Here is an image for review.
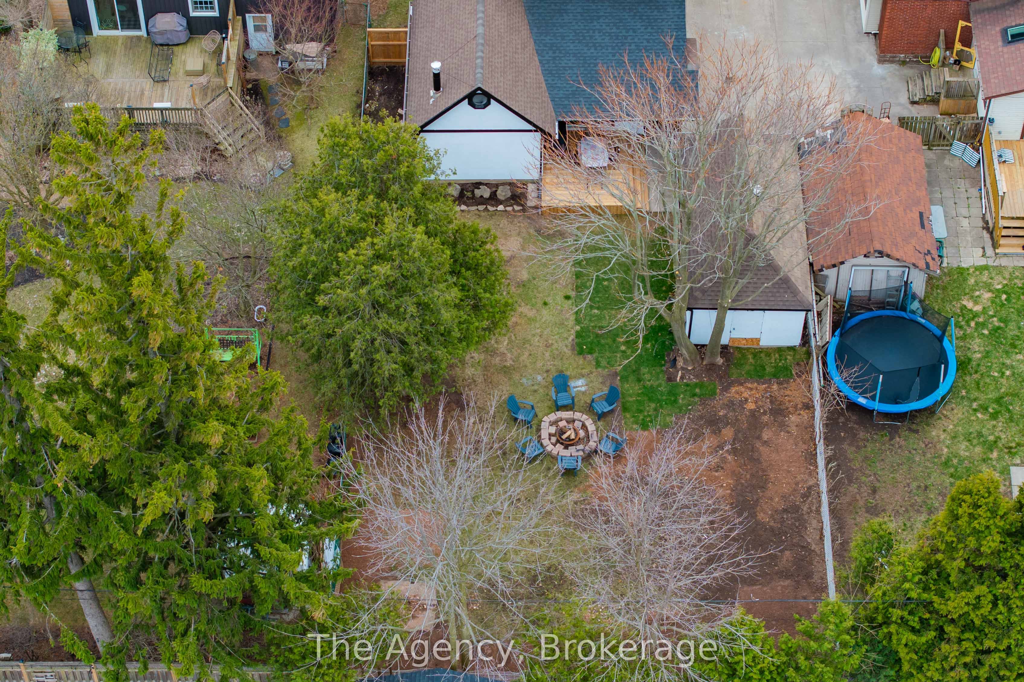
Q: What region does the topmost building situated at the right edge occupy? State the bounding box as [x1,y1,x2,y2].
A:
[860,0,994,65]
